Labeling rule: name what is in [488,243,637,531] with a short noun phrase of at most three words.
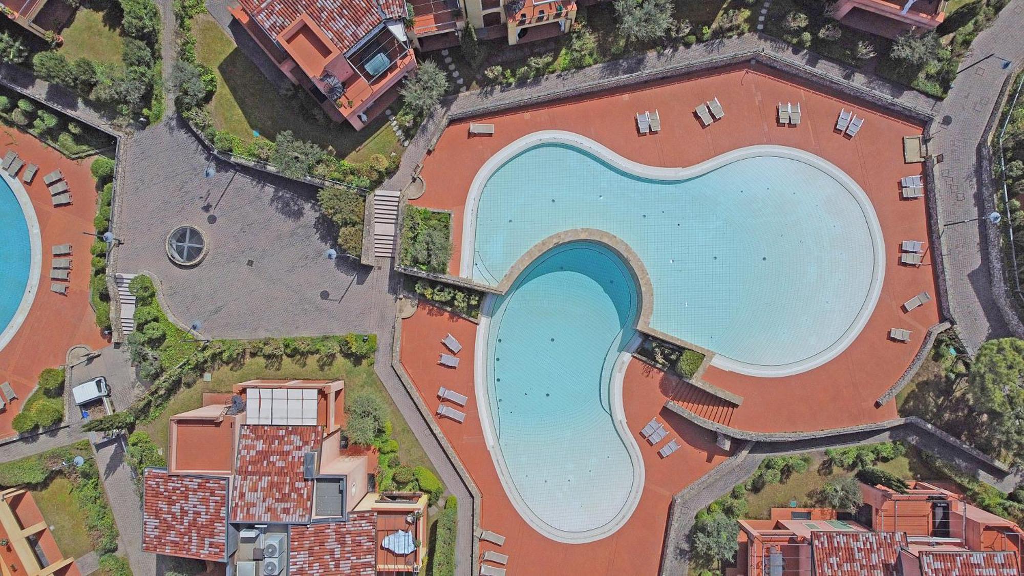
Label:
swimming pool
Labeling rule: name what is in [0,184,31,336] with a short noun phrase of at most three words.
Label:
swimming pool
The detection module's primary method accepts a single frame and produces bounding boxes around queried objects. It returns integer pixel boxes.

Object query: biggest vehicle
[72,374,124,405]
